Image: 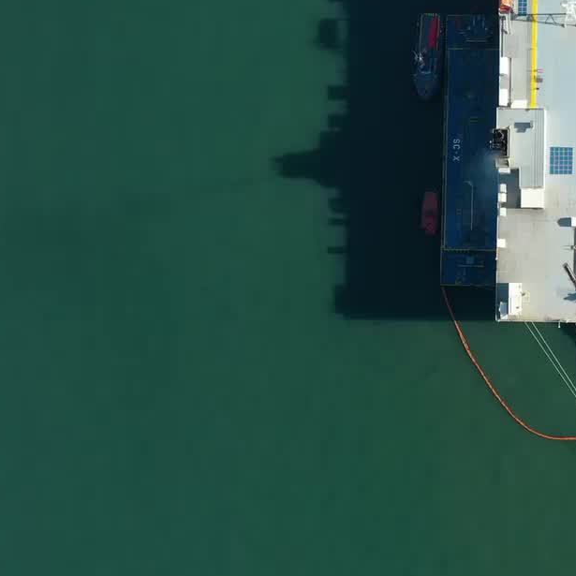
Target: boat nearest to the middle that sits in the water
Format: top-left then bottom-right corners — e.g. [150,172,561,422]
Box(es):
[421,192,439,235]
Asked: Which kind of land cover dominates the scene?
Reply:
water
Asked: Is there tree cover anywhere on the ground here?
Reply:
No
